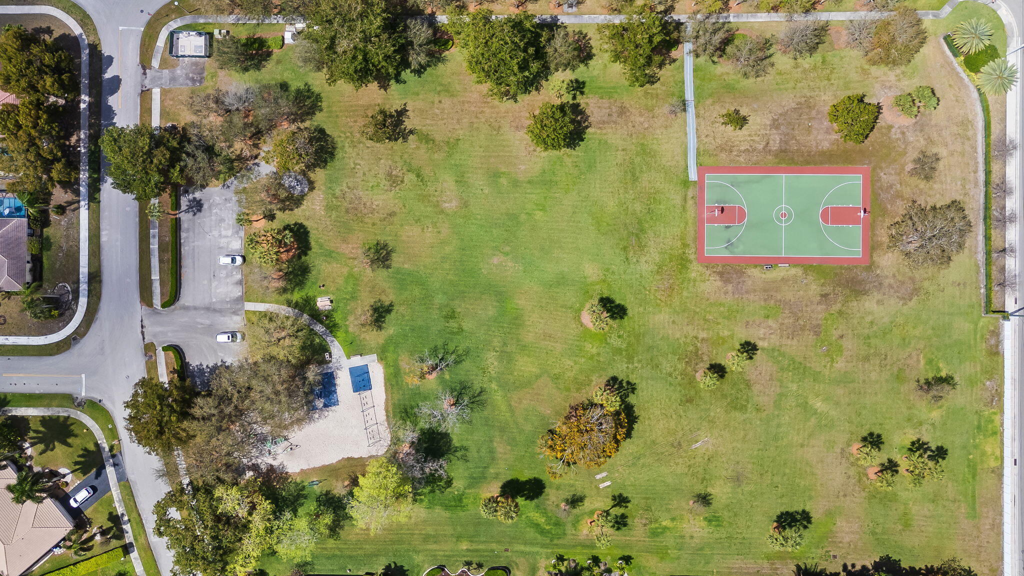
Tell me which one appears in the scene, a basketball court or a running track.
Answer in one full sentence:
This aerial view contains a basketball court.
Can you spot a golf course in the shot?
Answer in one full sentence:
No, no golf course is visible in the scene.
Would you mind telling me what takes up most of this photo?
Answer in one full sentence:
Most of the picture is covered by grass.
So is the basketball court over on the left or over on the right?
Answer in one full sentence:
You can find the basketball court on the right side of the picture.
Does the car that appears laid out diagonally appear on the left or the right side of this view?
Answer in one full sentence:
The car that appears laid out diagonally sits on the left side.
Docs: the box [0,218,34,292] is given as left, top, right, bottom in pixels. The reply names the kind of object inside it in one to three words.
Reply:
house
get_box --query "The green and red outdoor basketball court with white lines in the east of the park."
[698,166,871,264]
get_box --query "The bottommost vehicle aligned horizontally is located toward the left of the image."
[215,332,243,344]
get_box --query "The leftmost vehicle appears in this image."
[70,486,96,507]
